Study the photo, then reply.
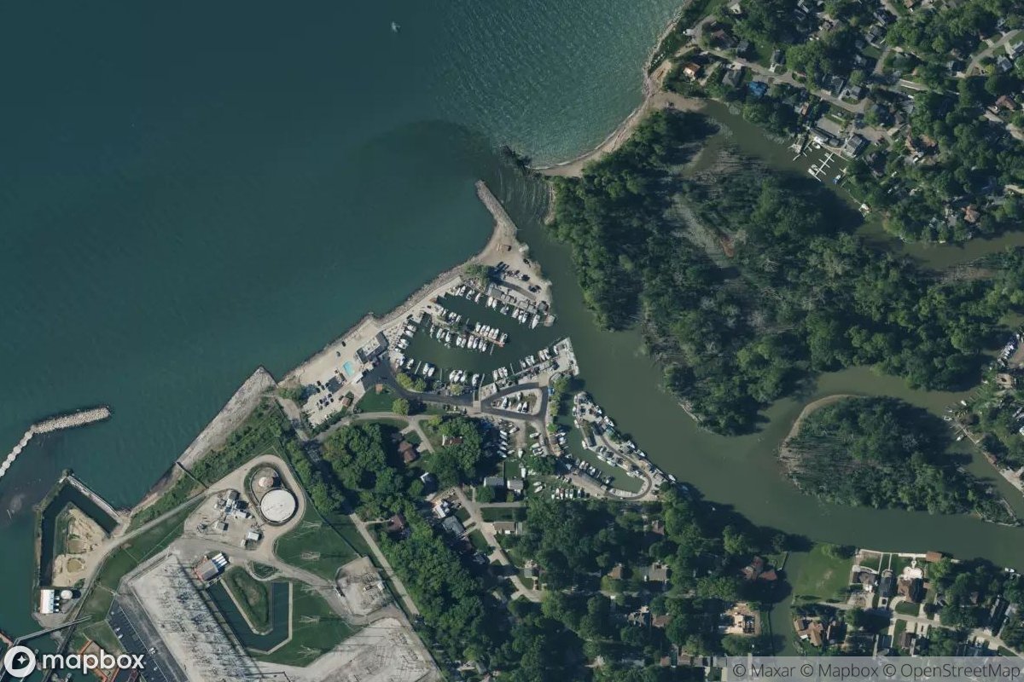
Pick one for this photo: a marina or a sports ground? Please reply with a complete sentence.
The area seen from above is a marina.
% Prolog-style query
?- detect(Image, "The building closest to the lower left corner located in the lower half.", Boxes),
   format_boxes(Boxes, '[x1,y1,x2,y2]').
[40,589,54,614]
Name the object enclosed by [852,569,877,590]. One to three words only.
house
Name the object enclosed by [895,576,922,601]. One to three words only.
house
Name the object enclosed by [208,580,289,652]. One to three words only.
pond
